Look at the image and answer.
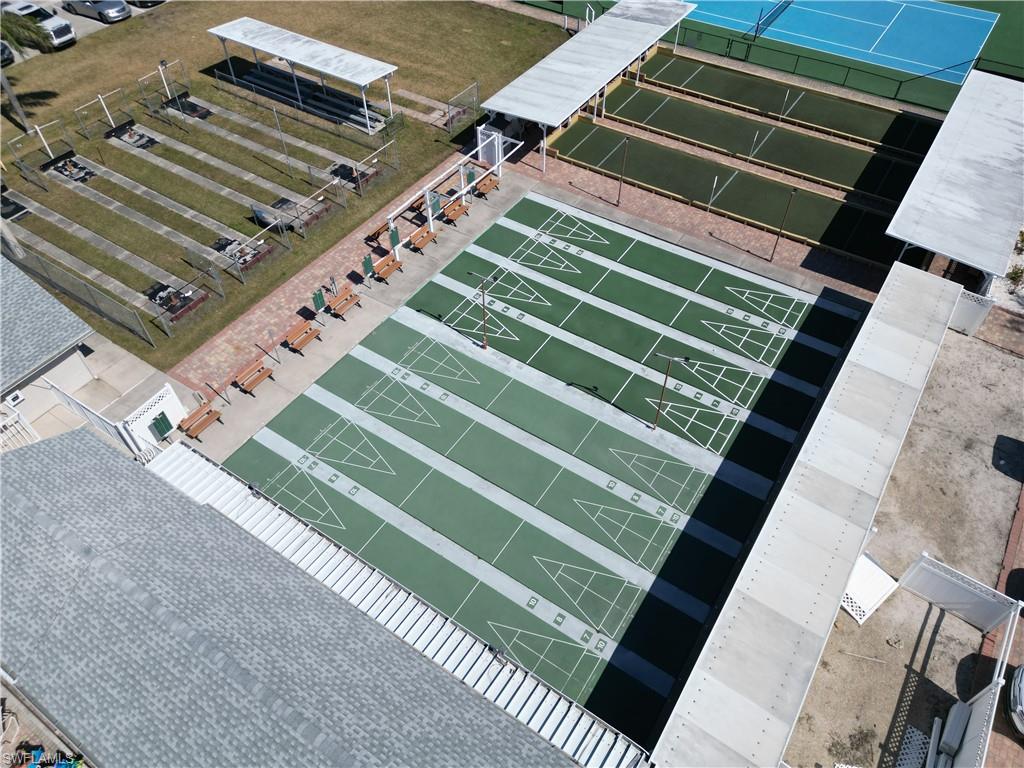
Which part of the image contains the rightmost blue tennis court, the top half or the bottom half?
top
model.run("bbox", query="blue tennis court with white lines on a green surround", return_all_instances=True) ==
[501,0,1024,113]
